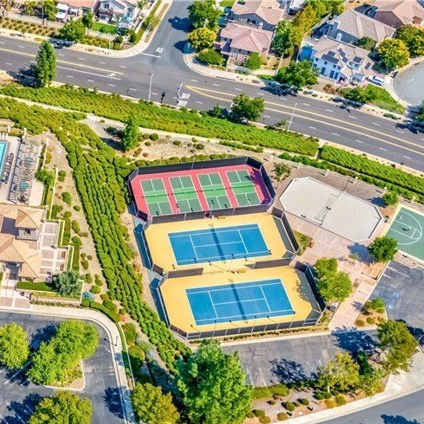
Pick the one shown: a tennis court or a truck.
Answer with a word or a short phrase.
tennis court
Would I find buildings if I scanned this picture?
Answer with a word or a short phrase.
Yes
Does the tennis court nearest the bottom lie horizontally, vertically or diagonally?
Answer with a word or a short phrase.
horizontally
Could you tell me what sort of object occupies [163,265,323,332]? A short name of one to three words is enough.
tennis court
